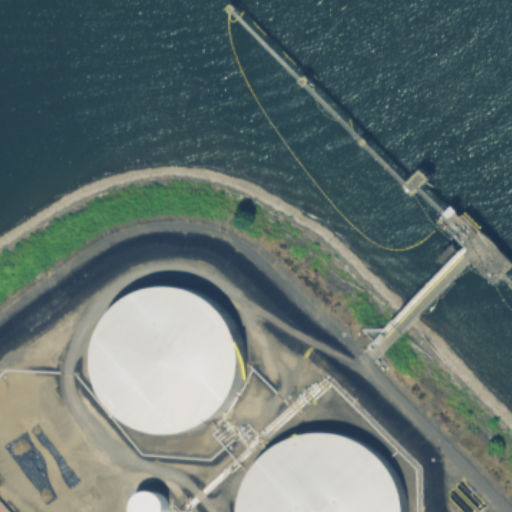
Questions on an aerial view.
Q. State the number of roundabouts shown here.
none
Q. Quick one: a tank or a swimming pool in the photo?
tank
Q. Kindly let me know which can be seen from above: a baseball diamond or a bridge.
bridge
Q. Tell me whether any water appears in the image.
Yes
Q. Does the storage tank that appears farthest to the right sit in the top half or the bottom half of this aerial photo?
bottom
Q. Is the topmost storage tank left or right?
left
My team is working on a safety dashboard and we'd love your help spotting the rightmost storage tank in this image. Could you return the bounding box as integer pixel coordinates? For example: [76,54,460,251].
[238,430,412,512]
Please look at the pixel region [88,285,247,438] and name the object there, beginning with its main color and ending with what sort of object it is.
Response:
white storage tank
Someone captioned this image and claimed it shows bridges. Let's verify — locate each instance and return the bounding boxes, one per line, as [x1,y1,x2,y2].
[362,246,476,358]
